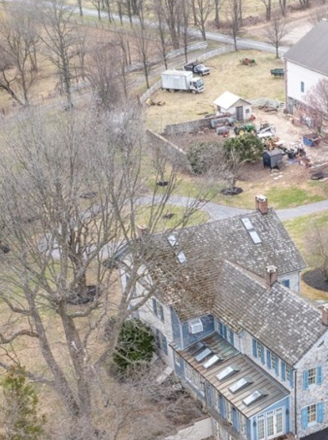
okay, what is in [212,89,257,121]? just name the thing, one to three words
shed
